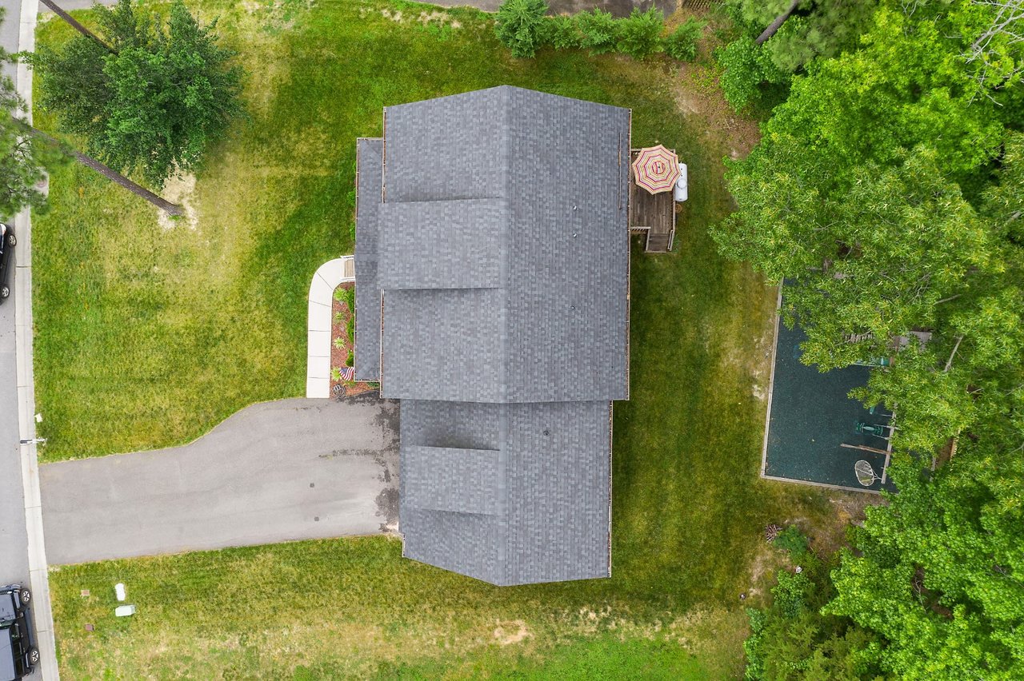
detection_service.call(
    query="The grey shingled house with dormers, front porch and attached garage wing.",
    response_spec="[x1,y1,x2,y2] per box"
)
[339,85,632,586]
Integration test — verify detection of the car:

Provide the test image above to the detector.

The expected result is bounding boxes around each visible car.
[0,220,20,310]
[0,580,42,681]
